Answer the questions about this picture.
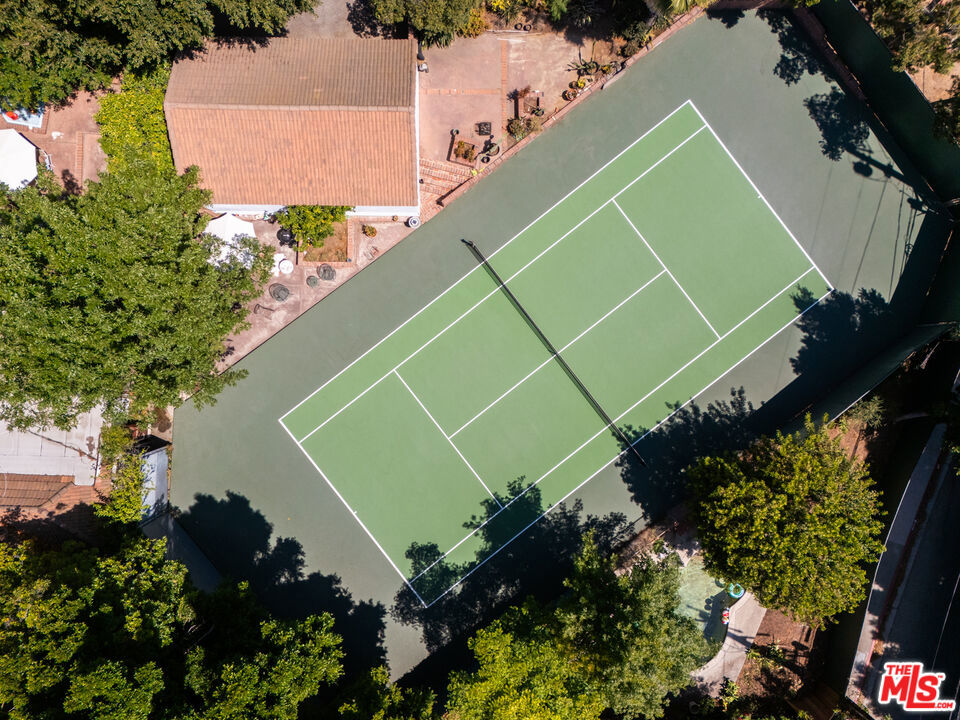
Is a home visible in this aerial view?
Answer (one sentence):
Yes, I can see a home in this picture.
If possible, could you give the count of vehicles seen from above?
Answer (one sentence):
The count of vehicles is 0.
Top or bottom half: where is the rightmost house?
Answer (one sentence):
You can find the rightmost house in the top half.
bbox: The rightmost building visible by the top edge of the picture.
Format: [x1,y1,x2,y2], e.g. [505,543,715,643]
[160,30,421,217]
